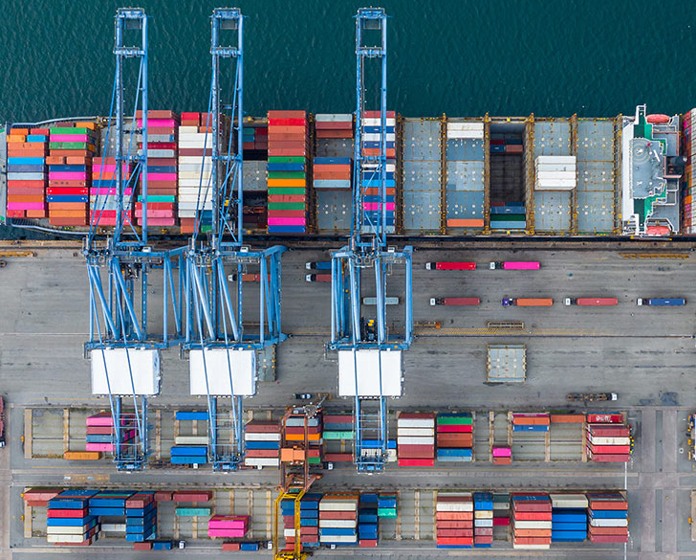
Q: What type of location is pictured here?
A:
port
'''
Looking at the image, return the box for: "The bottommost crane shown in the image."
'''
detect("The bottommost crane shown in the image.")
[271,477,315,560]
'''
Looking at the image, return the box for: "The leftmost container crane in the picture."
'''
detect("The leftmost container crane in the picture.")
[80,7,208,471]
